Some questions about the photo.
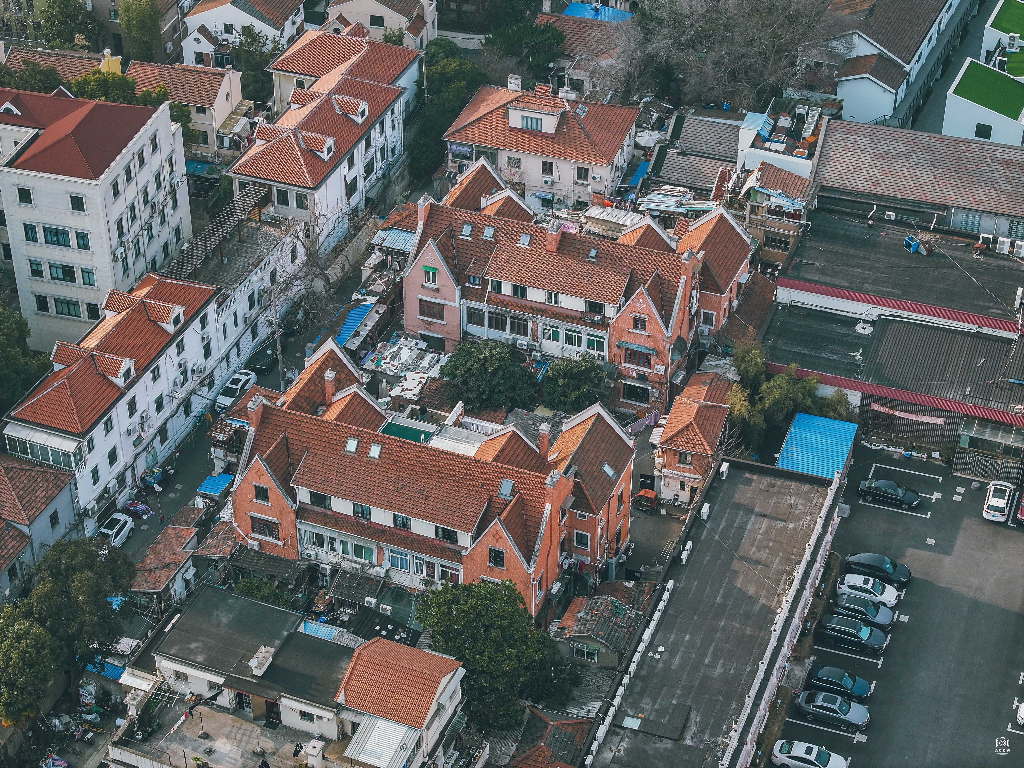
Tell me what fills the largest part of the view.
buildings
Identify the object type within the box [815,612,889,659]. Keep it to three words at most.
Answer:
car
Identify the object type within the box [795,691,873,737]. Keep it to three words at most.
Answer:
car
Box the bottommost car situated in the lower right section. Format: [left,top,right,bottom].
[769,734,849,768]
